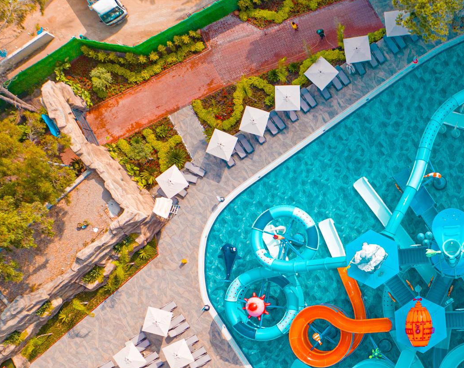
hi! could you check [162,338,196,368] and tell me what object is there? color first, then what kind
white umbrella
